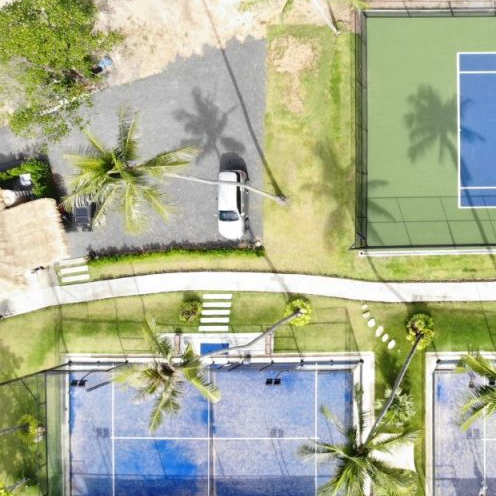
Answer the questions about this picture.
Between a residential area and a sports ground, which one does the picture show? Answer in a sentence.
What you see here is a sports ground.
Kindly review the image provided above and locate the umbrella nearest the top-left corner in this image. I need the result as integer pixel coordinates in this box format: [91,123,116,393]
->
[0,187,26,207]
